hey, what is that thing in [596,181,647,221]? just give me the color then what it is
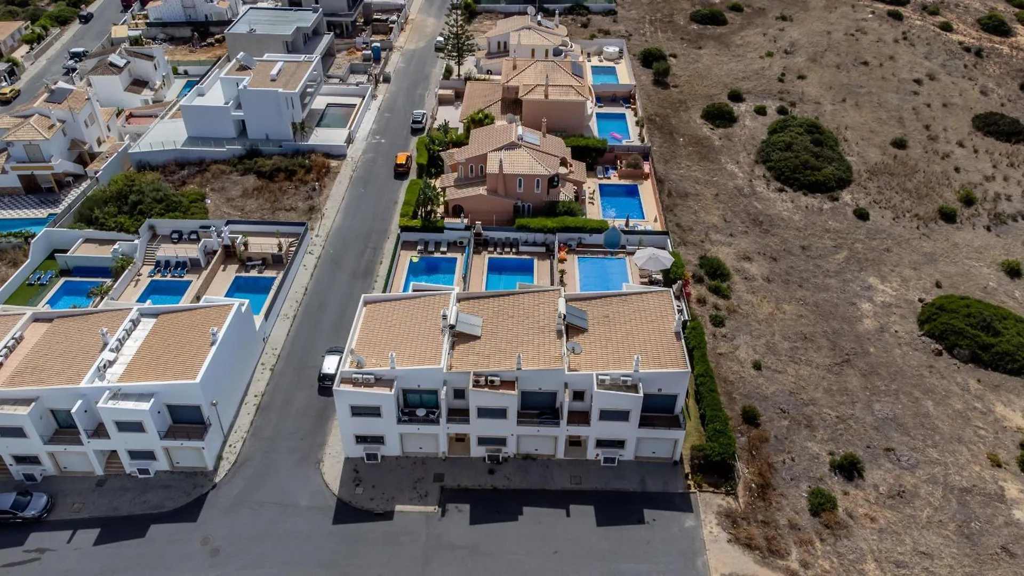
blue swimming pool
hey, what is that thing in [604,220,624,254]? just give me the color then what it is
blue umbrella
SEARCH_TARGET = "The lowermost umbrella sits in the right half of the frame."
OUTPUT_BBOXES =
[629,252,677,282]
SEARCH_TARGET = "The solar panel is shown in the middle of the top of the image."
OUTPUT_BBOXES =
[566,59,584,79]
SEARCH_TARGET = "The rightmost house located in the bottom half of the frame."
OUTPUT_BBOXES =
[561,281,690,472]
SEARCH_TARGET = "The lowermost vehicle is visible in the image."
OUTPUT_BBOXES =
[0,484,59,519]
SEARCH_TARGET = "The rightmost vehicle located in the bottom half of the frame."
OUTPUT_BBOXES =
[317,346,343,384]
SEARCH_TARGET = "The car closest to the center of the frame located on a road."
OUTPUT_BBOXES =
[394,149,415,170]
